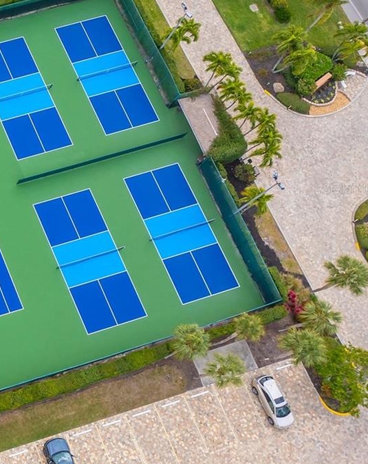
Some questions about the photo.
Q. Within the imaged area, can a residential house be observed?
No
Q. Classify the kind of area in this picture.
sports ground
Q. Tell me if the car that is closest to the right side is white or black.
white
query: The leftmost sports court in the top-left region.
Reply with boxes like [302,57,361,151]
[0,37,73,160]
